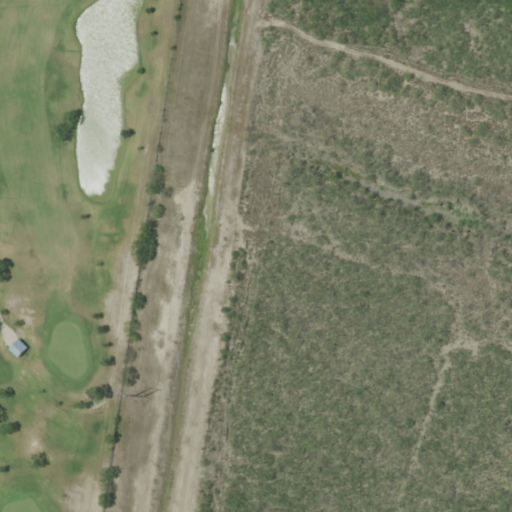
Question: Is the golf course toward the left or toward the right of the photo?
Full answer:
The golf course appears in the left half of the scene.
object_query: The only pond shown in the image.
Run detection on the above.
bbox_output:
[78,0,141,194]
